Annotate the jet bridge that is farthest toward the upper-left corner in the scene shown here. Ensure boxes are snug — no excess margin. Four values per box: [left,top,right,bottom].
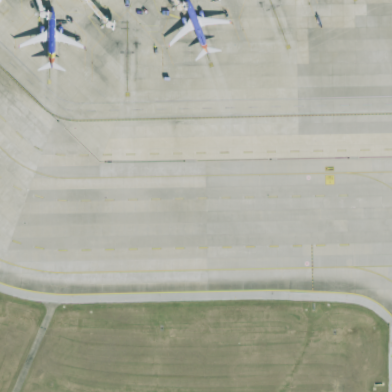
[34,0,50,18]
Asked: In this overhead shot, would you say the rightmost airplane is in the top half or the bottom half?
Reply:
top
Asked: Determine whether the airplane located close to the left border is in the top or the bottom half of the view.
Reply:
top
